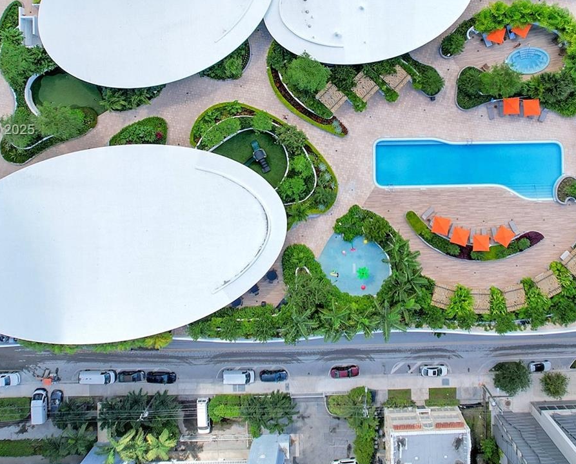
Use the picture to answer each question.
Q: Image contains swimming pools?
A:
Yes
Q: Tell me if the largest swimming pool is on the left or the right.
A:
right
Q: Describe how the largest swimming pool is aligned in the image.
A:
from left to right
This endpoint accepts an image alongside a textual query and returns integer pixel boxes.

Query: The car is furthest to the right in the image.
[527,359,551,373]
